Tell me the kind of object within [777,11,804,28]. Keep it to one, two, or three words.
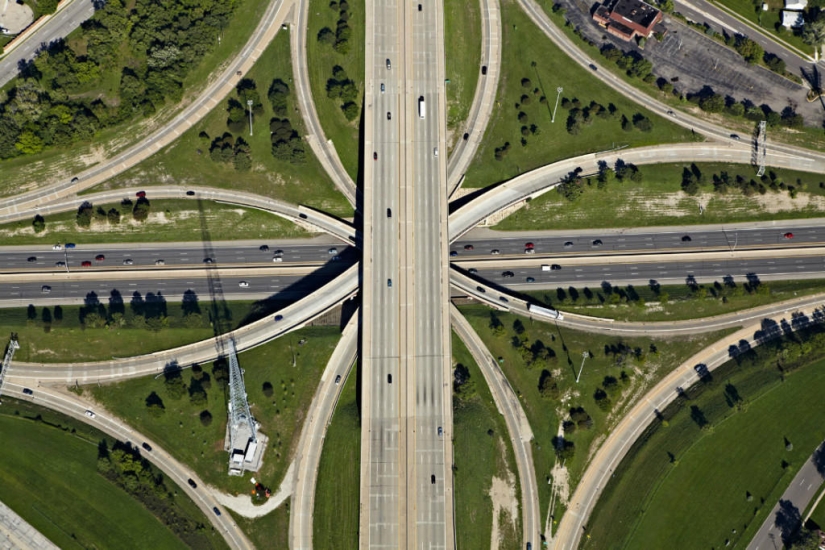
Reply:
house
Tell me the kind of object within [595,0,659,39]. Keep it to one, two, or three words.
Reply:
building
